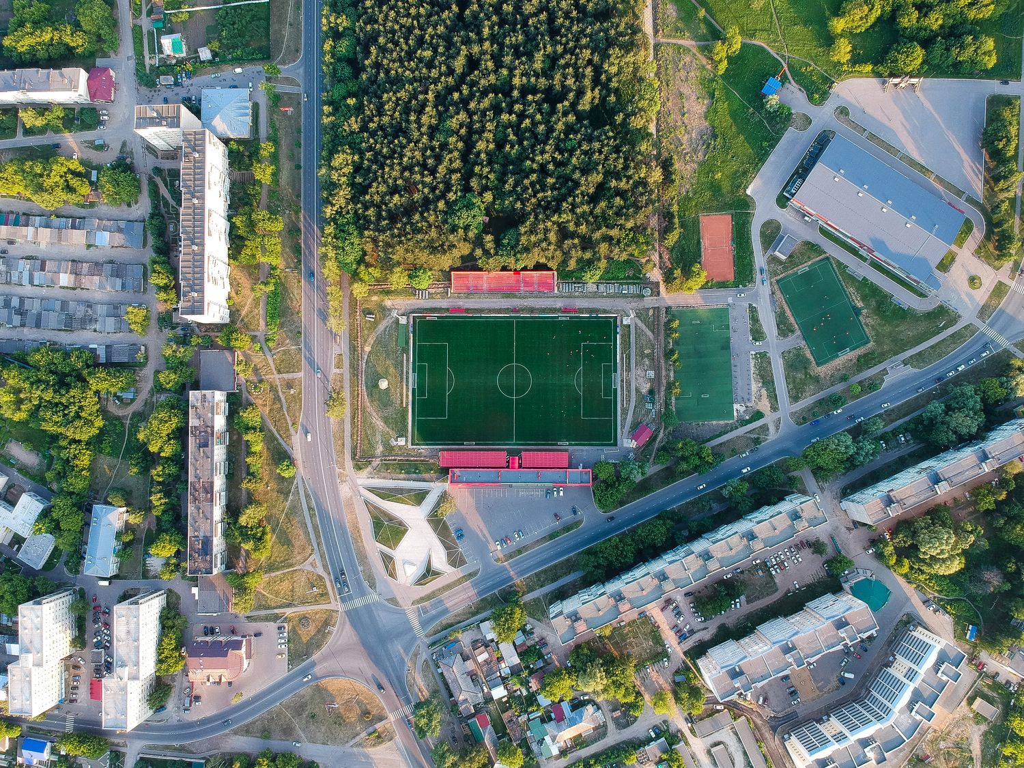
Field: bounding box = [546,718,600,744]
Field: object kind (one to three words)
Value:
house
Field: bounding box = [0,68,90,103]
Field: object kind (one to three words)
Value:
building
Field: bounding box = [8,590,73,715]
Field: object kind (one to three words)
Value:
building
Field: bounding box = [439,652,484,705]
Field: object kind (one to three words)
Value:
house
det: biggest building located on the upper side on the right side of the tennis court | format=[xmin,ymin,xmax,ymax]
[783,133,967,290]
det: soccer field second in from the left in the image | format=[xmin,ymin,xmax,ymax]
[672,307,734,422]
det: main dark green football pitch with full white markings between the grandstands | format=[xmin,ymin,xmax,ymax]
[412,316,617,446]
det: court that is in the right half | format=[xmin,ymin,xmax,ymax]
[700,214,735,281]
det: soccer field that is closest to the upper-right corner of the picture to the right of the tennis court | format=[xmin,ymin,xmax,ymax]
[776,257,870,367]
